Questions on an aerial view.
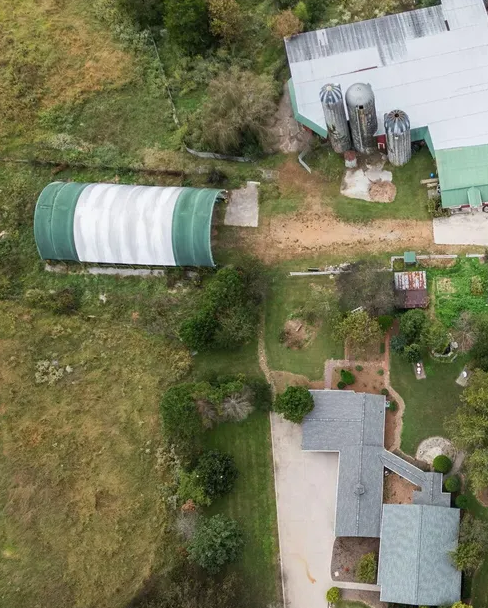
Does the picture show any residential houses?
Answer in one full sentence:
Yes, the frame does contain a residential house.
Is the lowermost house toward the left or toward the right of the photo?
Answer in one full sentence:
The lowermost house sits on the right side.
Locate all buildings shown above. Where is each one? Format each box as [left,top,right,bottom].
[300,390,462,605]
[403,247,415,264]
[393,271,428,312]
[33,181,228,270]
[285,0,488,217]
